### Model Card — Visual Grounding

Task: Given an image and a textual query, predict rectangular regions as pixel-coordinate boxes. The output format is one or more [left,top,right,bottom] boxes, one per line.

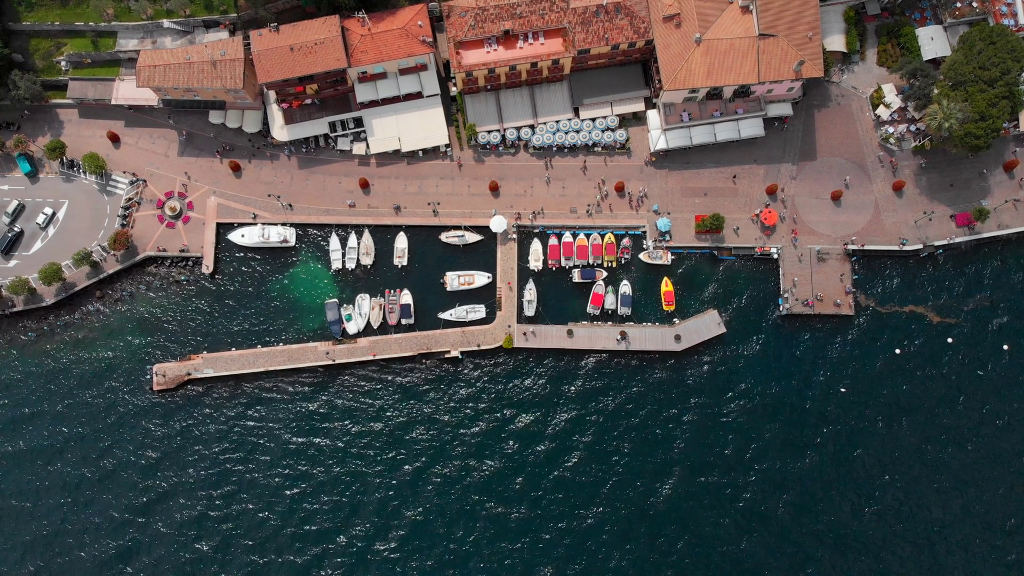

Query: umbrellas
[542,133,555,146]
[530,135,543,148]
[489,216,507,233]
[594,118,606,131]
[558,121,571,133]
[606,116,618,129]
[602,130,615,144]
[881,95,903,112]
[759,208,777,226]
[614,130,626,142]
[566,133,578,146]
[353,142,366,155]
[878,82,898,99]
[520,127,533,141]
[489,132,501,144]
[656,218,671,233]
[505,129,518,141]
[337,138,350,152]
[477,132,489,145]
[546,122,558,134]
[582,120,594,133]
[577,131,589,144]
[534,125,546,137]
[872,103,893,122]
[590,130,602,142]
[570,119,582,131]
[554,132,567,145]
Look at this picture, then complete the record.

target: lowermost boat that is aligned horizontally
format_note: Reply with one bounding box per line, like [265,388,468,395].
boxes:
[437,305,487,329]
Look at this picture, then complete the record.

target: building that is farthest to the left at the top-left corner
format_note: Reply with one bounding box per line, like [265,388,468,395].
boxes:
[67,77,118,106]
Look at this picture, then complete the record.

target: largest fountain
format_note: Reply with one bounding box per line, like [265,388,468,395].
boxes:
[162,199,182,217]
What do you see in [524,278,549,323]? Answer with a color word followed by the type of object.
white boat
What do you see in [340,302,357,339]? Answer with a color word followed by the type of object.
white boat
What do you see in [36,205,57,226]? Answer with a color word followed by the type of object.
white car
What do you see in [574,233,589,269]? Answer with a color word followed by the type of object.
red boat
